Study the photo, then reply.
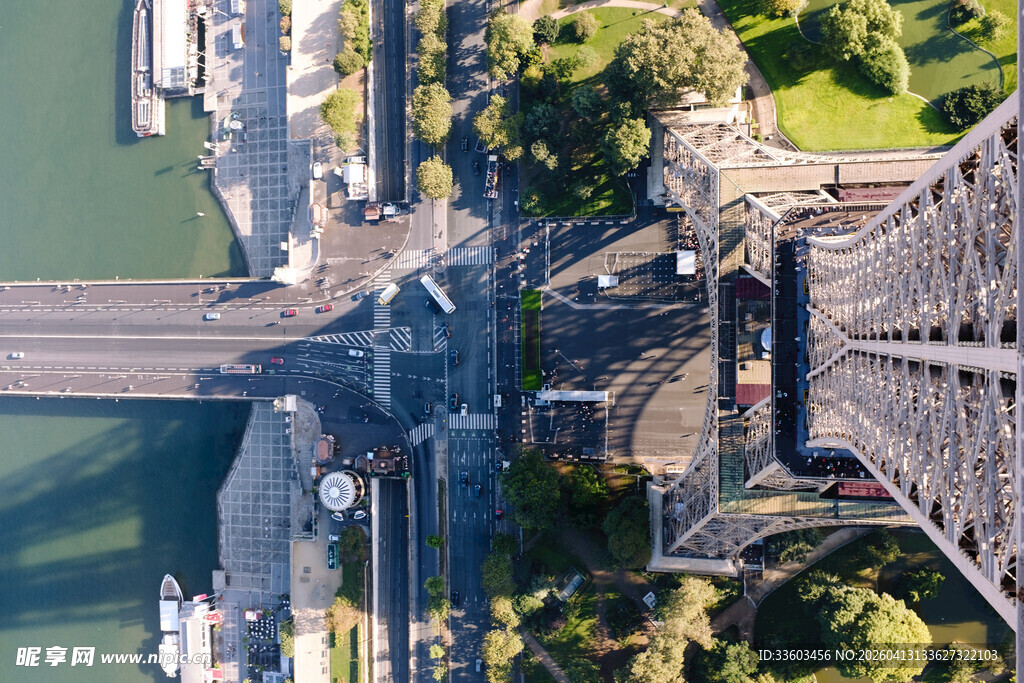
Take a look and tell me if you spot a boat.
Yes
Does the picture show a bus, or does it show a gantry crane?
bus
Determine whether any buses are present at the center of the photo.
Yes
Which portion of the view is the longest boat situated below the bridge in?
bottom left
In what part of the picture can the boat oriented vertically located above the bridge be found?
top left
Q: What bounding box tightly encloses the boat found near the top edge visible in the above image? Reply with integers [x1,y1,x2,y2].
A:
[131,0,167,137]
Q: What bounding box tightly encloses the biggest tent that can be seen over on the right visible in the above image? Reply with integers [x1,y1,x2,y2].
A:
[677,251,696,275]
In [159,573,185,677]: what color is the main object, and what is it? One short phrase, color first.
white boat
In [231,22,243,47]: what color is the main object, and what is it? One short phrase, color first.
white vehicle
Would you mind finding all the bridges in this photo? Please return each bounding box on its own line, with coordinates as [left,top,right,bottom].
[0,277,299,403]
